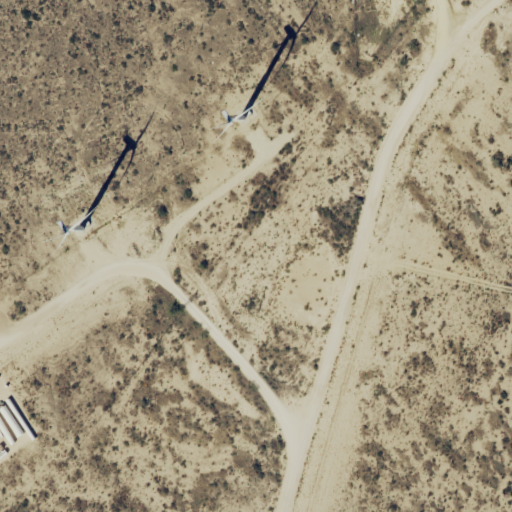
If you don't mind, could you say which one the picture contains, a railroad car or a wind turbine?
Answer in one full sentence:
The image shows a wind turbine.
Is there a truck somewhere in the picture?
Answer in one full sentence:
No, the photo shows no truck.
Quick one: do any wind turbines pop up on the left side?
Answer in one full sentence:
Yes, a wind turbine shows up on the left side.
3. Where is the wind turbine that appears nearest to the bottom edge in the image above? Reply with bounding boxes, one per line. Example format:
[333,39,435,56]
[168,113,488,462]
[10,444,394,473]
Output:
[48,214,94,256]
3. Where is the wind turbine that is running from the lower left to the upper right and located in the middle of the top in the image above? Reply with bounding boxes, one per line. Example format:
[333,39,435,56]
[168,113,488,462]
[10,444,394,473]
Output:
[216,102,260,144]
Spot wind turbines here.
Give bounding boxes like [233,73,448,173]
[48,214,94,256]
[216,102,260,144]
